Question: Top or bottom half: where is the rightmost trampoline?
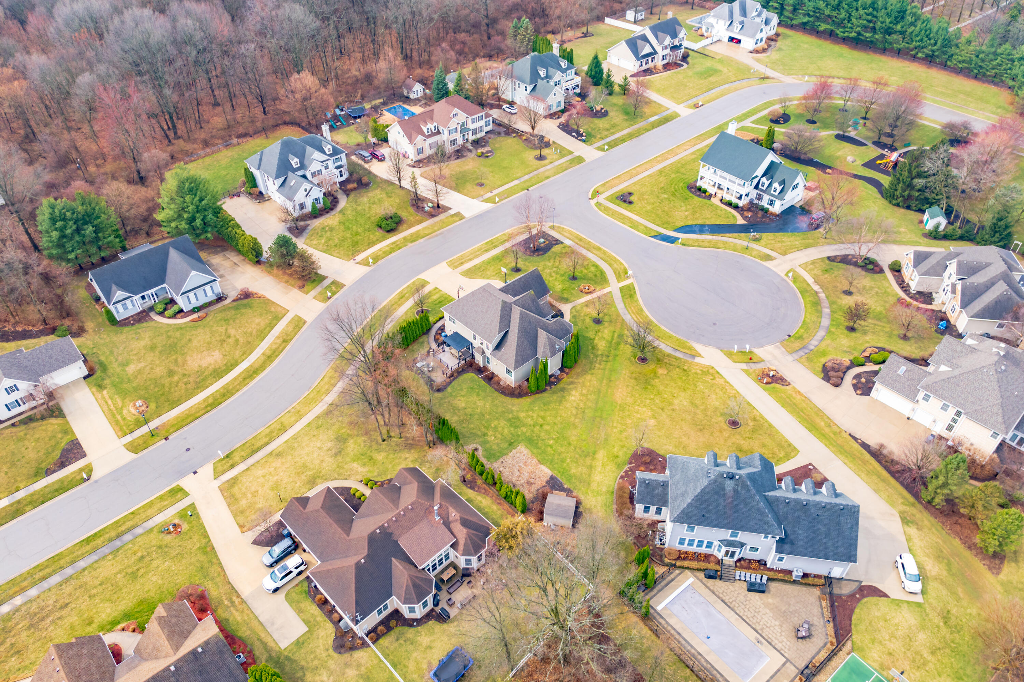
bottom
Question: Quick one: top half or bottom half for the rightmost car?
bottom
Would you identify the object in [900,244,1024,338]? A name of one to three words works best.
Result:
house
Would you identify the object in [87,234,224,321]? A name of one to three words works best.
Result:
house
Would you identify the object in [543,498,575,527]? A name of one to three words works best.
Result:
shed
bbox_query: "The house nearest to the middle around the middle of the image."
[431,267,581,382]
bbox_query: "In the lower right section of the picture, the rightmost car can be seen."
[895,553,922,594]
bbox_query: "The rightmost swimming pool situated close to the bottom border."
[657,578,770,680]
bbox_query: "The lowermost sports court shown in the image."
[828,654,888,682]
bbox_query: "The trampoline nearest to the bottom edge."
[430,647,473,682]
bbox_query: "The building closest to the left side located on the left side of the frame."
[0,332,89,421]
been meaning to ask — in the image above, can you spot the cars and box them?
[731,37,740,44]
[501,104,519,114]
[354,150,374,162]
[895,553,922,594]
[370,150,386,161]
[263,555,308,594]
[260,535,301,571]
